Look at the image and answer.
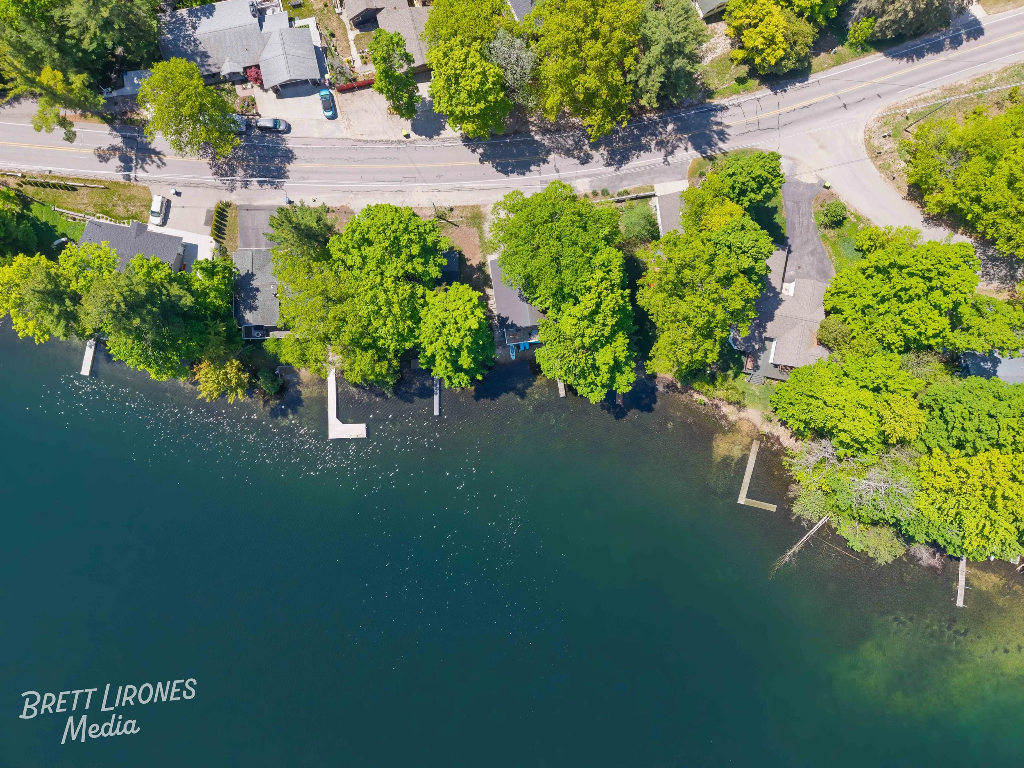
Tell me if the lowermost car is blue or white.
white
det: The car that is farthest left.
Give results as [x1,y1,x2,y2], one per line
[149,194,169,227]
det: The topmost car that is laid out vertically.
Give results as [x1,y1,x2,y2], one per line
[319,90,336,119]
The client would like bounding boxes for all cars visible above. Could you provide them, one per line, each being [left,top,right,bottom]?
[319,90,336,119]
[256,117,287,134]
[149,194,169,227]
